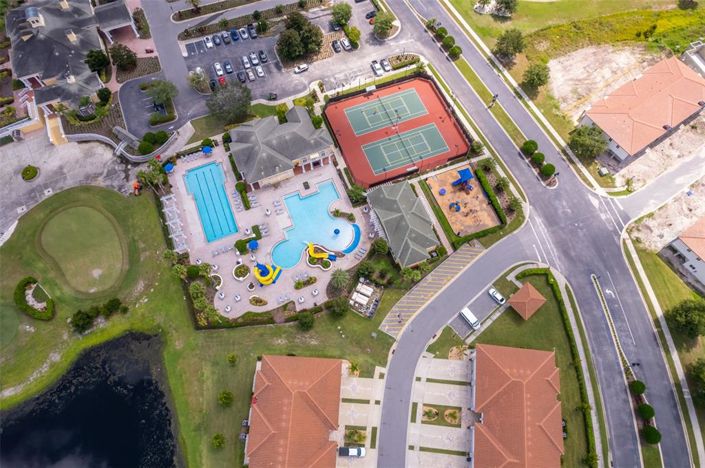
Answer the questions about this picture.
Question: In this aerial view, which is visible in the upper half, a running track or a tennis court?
tennis court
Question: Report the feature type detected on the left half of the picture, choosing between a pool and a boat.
pool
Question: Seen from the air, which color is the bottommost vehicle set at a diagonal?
white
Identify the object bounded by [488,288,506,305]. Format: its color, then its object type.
white car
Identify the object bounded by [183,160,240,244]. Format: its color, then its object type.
blue swimming pool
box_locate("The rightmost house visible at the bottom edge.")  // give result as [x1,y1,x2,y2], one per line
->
[472,345,571,468]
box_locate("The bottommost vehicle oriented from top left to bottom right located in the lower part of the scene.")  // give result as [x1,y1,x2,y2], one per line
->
[461,304,482,330]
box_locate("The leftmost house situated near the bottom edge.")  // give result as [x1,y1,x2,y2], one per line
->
[243,356,341,468]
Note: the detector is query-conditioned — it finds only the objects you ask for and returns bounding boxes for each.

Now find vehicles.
[339,447,366,457]
[221,32,230,43]
[371,59,382,74]
[241,56,250,67]
[488,288,506,305]
[461,304,482,330]
[331,19,340,30]
[332,40,341,52]
[212,34,220,45]
[214,63,222,74]
[240,28,248,38]
[246,23,257,36]
[381,56,390,70]
[258,50,267,61]
[248,51,259,65]
[246,69,255,81]
[230,28,239,40]
[237,71,245,83]
[255,65,264,77]
[224,61,233,72]
[366,17,375,25]
[204,37,213,48]
[293,64,308,73]
[364,10,376,18]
